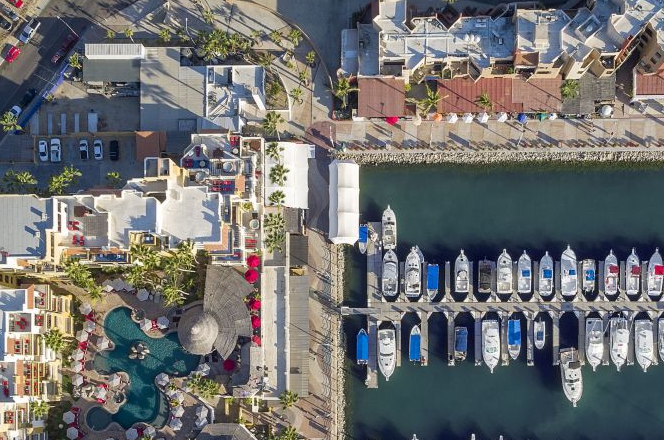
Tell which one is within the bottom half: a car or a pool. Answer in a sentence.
The one visible within the bottom half is a pool.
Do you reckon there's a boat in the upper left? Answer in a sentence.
No, I can find no boat in the upper left.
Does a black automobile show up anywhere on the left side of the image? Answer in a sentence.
Yes, looking on the left side of the image, one can make out a black automobile.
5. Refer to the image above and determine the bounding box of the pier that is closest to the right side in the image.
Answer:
[367,222,664,388]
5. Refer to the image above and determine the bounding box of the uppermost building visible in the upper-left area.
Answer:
[84,44,145,97]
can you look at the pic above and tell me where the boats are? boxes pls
[409,326,422,364]
[624,247,646,295]
[507,316,521,360]
[633,319,659,371]
[454,323,468,360]
[603,249,620,296]
[517,250,532,295]
[645,247,664,297]
[558,348,589,407]
[584,319,609,370]
[532,314,546,349]
[559,244,578,297]
[355,329,368,367]
[381,205,397,250]
[581,259,597,295]
[478,260,492,297]
[608,317,633,371]
[538,250,555,297]
[453,249,470,294]
[358,221,368,253]
[381,247,398,297]
[427,261,439,300]
[480,320,501,372]
[376,323,396,380]
[404,244,423,298]
[495,248,515,295]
